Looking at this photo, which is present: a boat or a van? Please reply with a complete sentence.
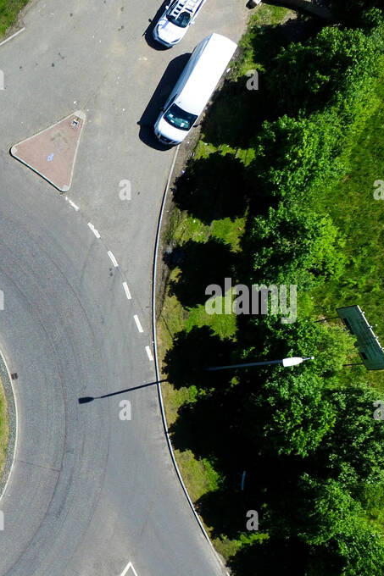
The image shows a van.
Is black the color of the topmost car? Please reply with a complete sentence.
No, from above the topmost car looks white.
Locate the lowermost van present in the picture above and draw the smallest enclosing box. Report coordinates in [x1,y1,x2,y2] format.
[155,36,236,146]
